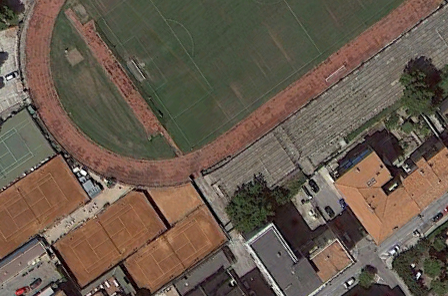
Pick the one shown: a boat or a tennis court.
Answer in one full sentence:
Looking from above, you can make out a tennis court.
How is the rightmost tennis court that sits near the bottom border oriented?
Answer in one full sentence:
The rightmost tennis court that sits near the bottom border is oriented on a diagonal.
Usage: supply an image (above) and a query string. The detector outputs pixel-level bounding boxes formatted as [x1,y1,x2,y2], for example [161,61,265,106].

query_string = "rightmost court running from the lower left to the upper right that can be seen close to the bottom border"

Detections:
[126,205,228,291]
